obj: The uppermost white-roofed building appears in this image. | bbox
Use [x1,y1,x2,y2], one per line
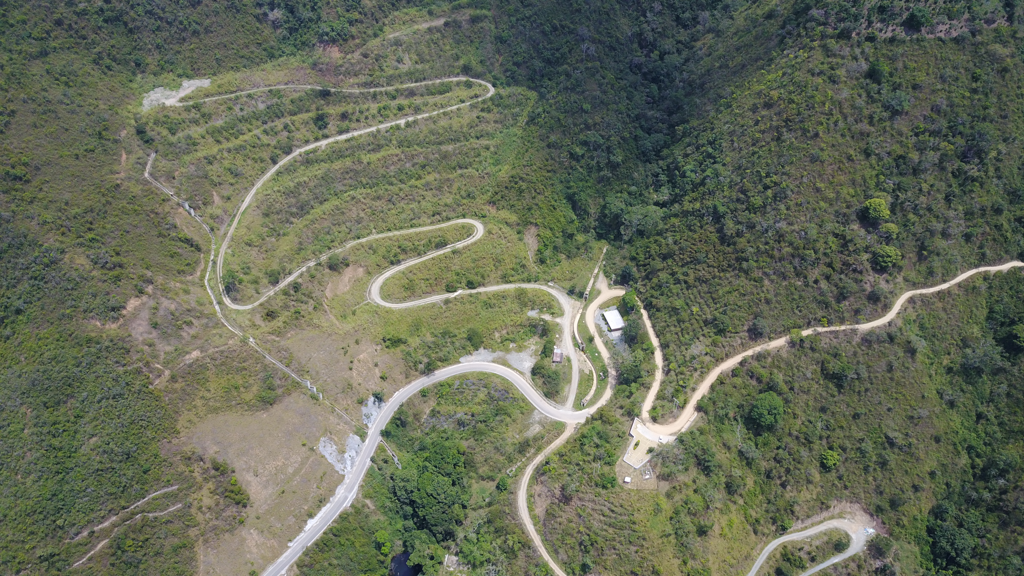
[603,310,625,333]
